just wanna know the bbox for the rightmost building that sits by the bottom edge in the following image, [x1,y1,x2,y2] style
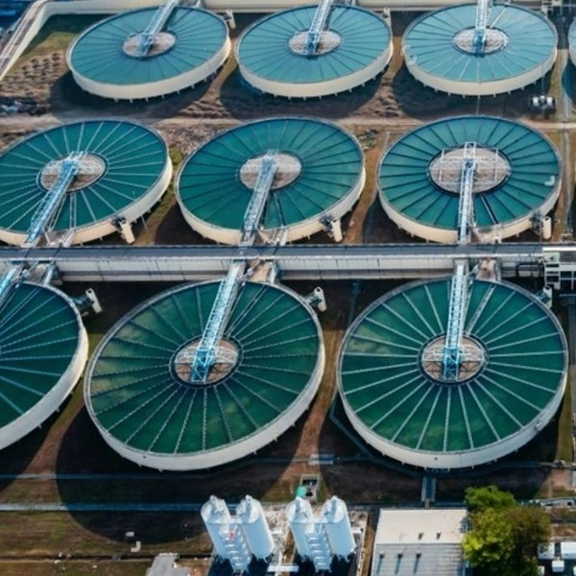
[371,509,466,576]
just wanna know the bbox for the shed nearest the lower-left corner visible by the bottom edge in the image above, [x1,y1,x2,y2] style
[145,554,191,576]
